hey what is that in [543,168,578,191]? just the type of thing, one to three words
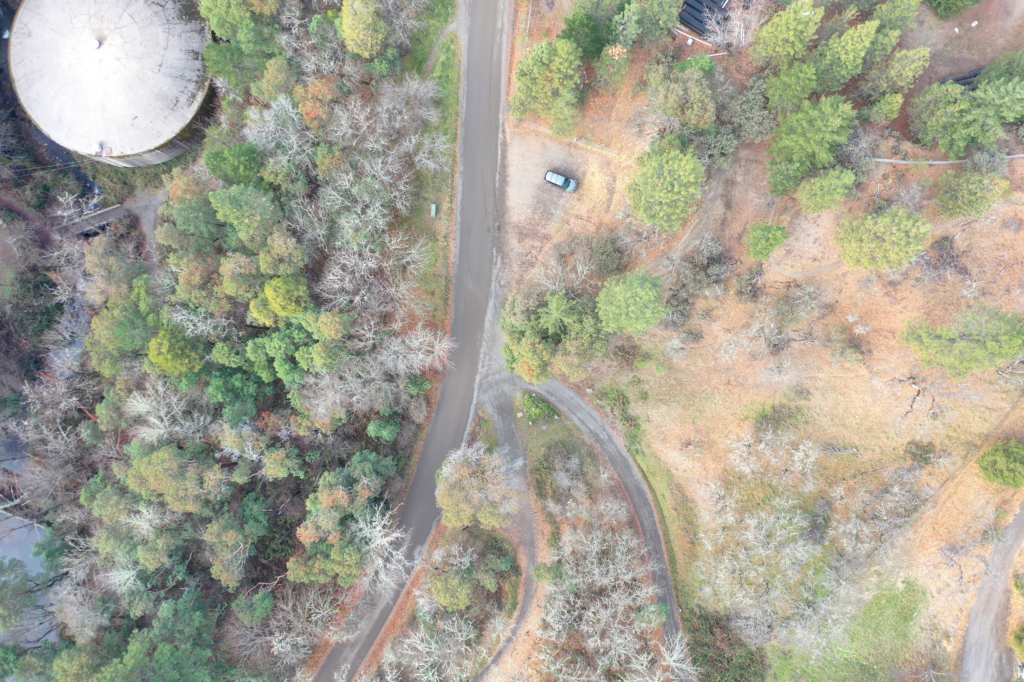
car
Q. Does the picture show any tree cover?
Yes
